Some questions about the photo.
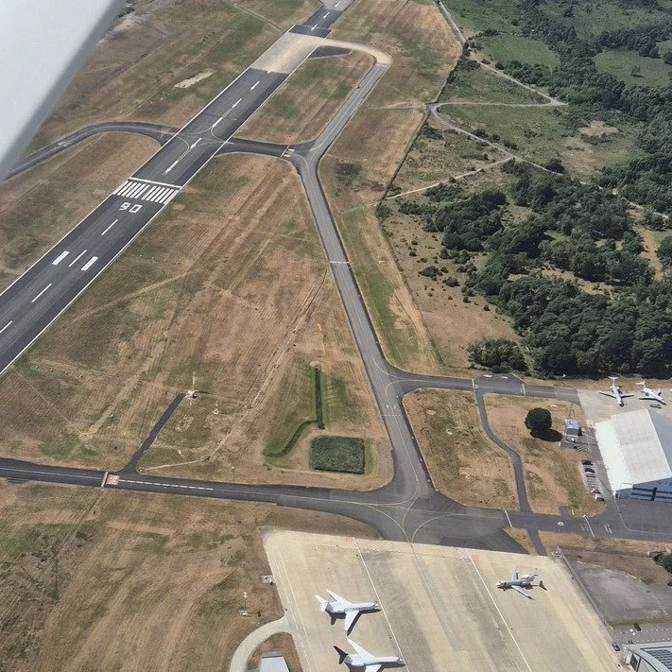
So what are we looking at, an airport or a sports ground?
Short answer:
airport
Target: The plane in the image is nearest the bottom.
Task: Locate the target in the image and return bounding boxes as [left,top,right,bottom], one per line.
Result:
[337,635,405,672]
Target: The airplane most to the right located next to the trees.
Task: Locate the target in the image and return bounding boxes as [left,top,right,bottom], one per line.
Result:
[633,373,667,404]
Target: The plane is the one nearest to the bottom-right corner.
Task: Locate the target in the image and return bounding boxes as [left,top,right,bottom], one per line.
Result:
[498,570,546,597]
